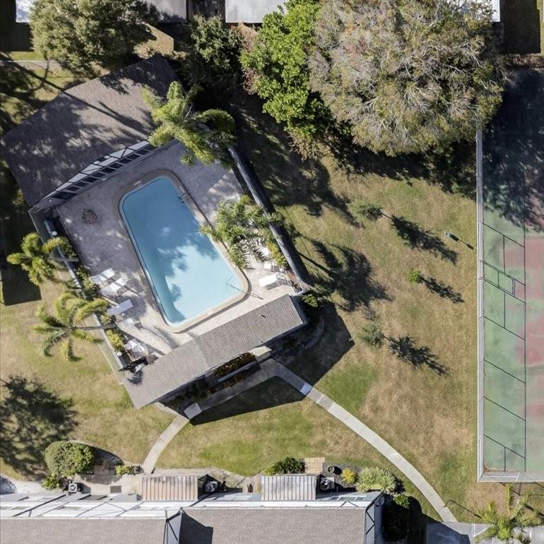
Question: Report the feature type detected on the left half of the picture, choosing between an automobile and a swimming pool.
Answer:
swimming pool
